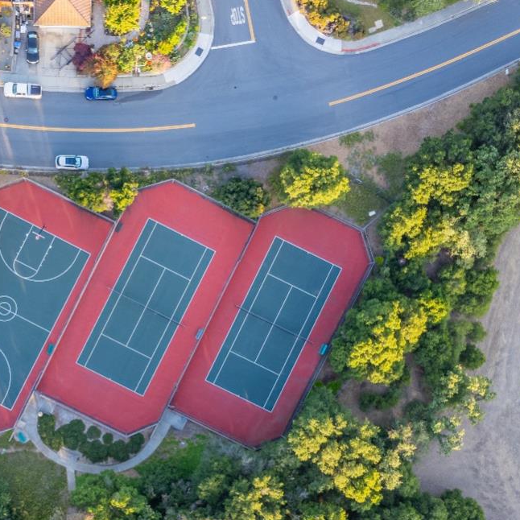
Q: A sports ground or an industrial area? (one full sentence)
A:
It's a sports ground.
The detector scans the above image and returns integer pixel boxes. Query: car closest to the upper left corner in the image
[25,31,40,65]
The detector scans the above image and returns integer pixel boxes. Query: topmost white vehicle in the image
[3,82,42,99]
